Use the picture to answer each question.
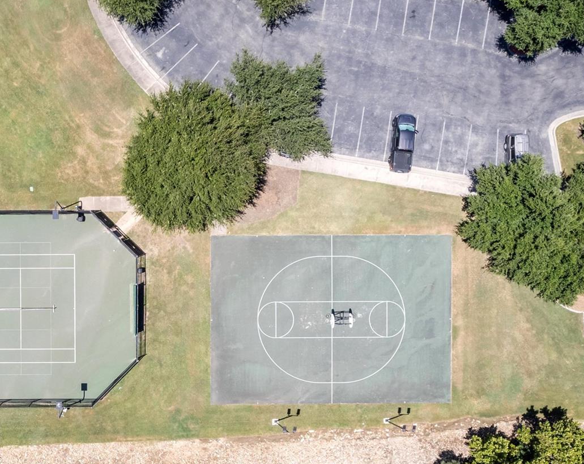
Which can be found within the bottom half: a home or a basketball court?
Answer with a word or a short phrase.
basketball court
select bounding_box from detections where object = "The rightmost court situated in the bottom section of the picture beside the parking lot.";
[211,234,452,405]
